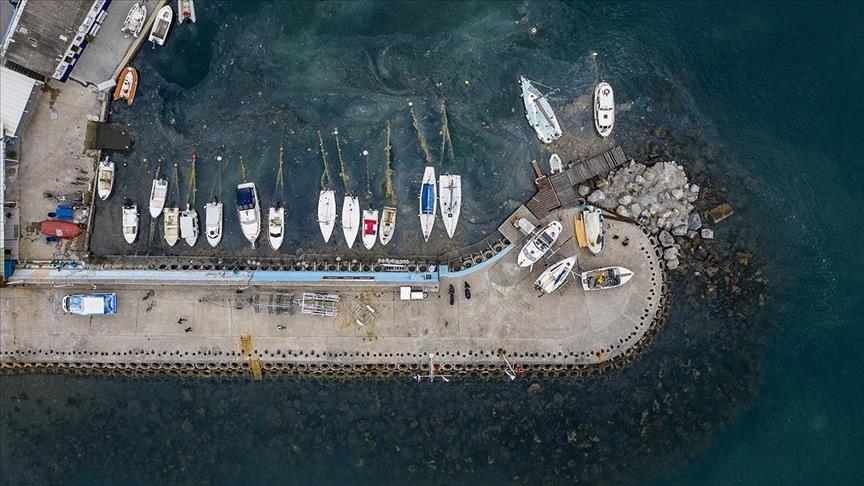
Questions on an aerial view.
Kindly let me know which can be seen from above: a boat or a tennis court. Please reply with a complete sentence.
It is a boat that can be seen here.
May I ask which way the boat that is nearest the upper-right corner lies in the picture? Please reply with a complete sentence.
The boat that is nearest the upper-right corner is oriented from top to bottom.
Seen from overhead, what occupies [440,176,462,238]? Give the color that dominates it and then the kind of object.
white boat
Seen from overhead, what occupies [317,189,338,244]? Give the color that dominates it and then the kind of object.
white boat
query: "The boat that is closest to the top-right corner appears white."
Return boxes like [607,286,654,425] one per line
[592,82,614,140]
